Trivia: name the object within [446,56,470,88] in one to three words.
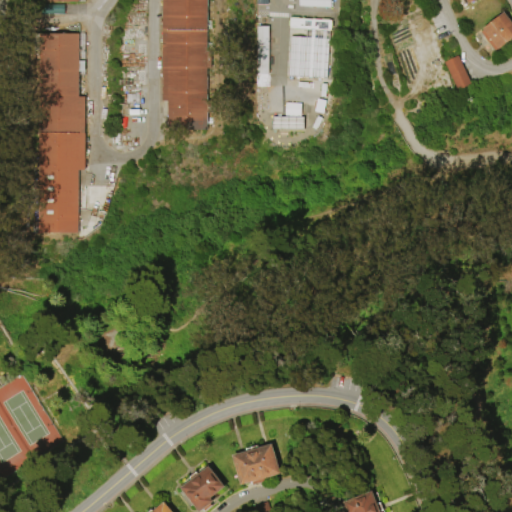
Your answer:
barn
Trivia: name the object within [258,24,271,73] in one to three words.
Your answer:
building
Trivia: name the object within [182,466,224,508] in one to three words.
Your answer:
house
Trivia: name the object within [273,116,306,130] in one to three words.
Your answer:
shed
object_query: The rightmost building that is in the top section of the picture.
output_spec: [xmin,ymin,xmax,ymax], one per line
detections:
[482,13,512,48]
